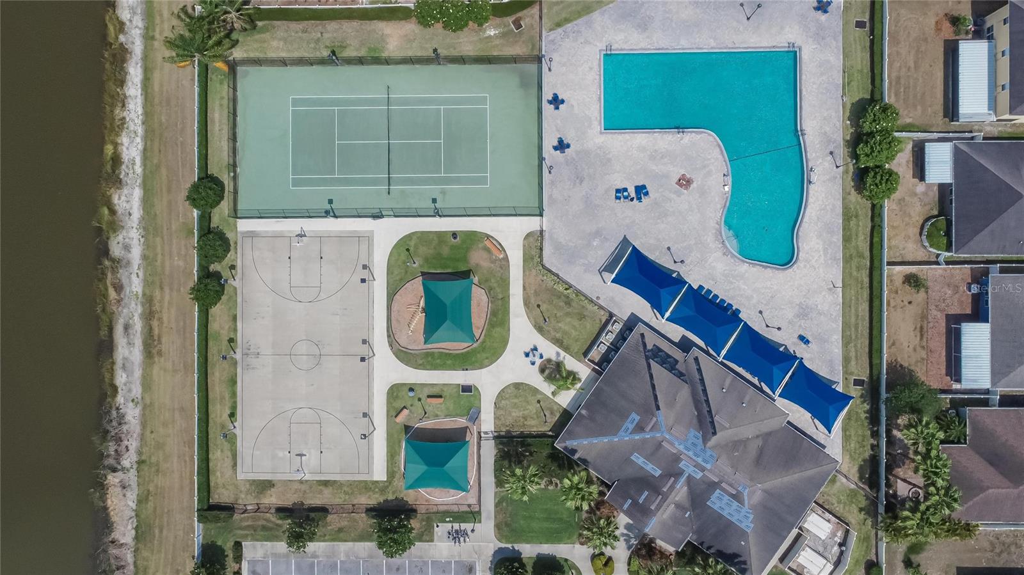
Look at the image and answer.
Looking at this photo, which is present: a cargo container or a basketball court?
basketball court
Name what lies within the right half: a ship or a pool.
pool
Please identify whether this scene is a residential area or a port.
residential area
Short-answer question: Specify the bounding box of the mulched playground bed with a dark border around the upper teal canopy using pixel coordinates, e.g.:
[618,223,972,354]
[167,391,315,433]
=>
[391,274,489,350]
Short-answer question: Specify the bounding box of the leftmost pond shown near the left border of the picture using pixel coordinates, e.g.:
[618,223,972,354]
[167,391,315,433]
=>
[0,0,120,575]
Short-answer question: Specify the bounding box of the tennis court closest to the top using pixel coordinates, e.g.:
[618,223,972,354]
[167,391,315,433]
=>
[236,64,543,218]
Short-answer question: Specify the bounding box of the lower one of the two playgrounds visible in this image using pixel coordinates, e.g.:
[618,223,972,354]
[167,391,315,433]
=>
[400,415,477,505]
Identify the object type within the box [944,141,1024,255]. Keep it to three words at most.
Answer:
house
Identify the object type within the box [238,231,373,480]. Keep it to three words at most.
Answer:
basketball court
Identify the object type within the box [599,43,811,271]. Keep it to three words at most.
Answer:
swimming pool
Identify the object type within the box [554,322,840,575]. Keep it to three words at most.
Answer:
building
